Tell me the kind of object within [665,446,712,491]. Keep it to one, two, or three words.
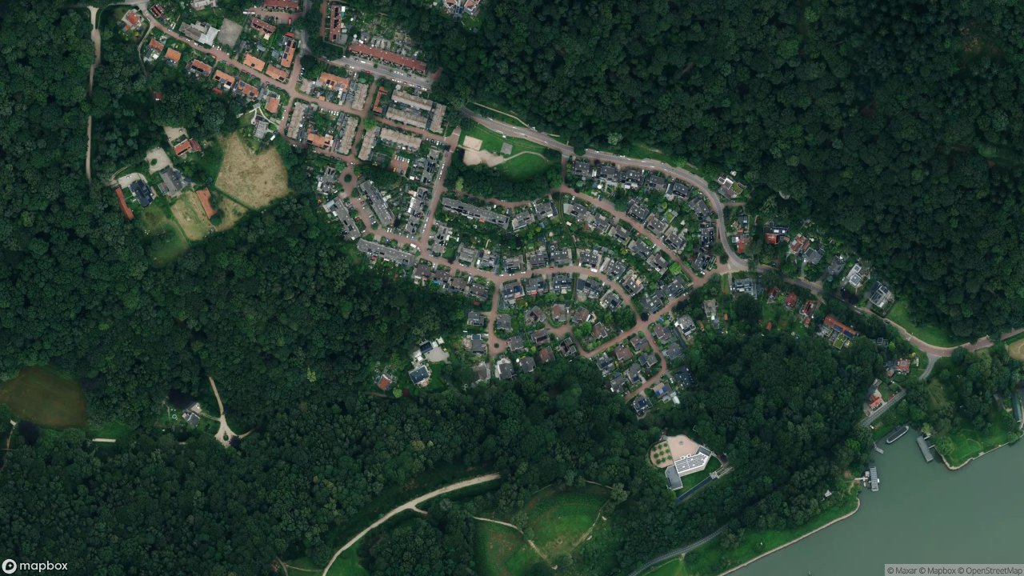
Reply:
building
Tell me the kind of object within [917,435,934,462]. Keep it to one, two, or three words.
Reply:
boat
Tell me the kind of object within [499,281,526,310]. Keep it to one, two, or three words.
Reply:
house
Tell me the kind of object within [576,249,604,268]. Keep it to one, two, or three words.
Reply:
house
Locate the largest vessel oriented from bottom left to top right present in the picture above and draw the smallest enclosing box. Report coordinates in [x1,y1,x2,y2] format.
[886,425,910,443]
